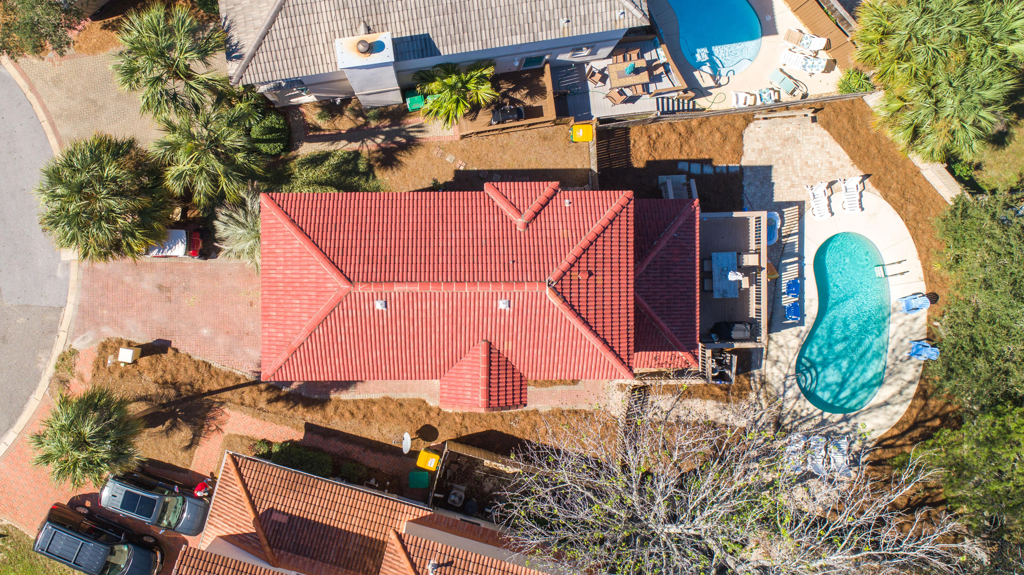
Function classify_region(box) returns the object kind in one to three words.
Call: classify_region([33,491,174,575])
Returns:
car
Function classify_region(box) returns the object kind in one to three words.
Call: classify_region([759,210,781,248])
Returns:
swimming pool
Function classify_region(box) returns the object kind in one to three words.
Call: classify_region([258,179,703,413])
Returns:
house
